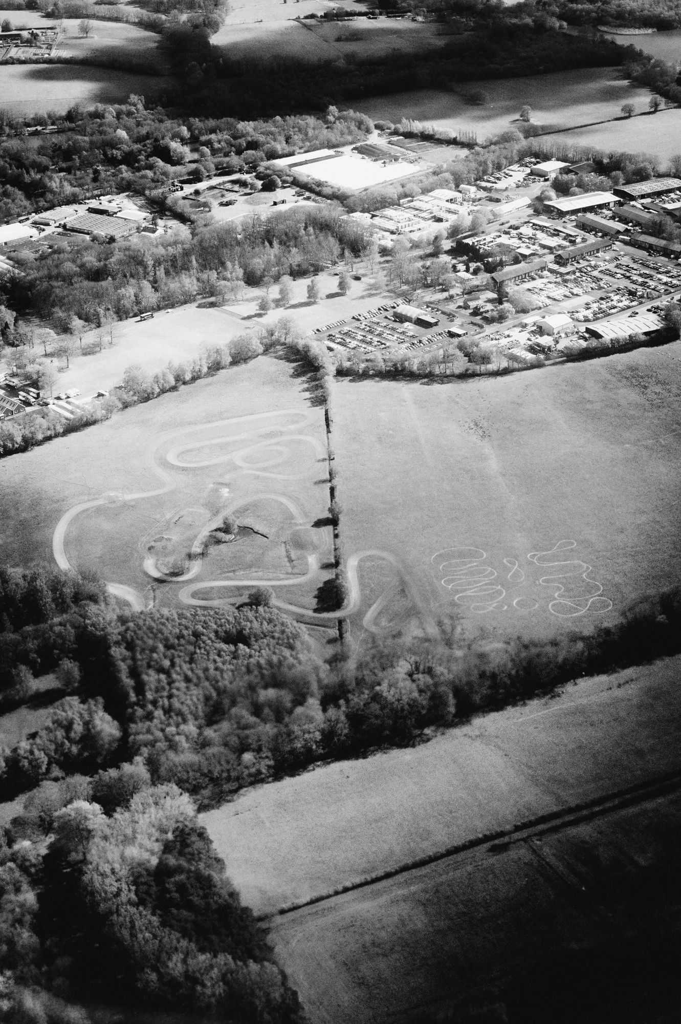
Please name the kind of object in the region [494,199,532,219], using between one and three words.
shed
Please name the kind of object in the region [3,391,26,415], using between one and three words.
barn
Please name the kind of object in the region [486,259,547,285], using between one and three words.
building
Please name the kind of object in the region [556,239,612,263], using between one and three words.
building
